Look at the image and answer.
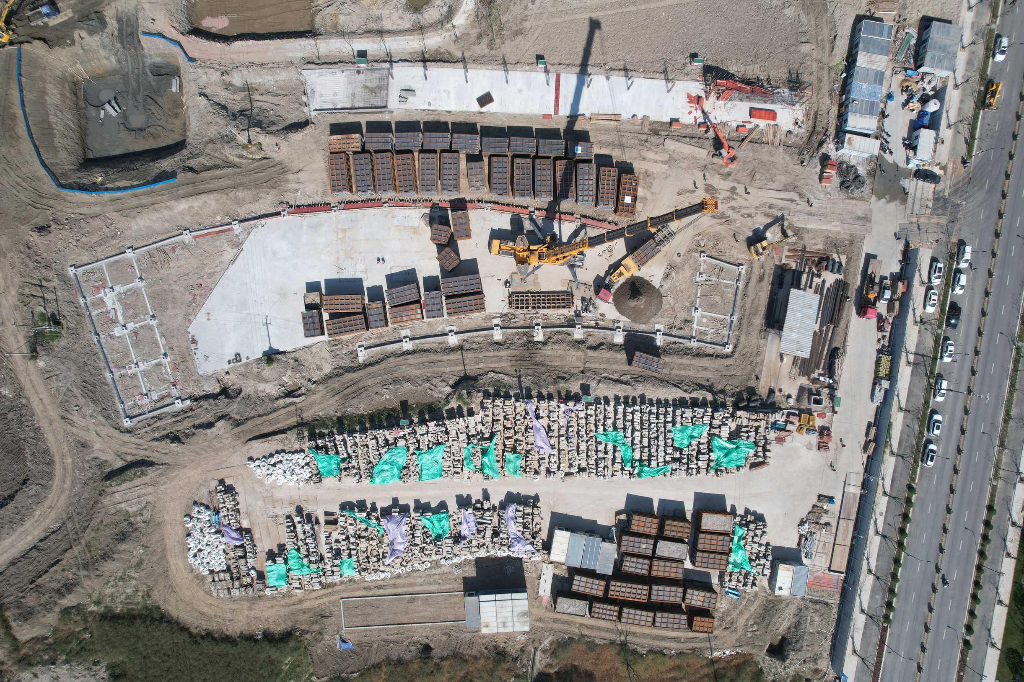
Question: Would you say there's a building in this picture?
Yes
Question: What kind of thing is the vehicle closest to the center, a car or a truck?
truck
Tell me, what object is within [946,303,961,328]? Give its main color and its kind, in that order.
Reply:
black car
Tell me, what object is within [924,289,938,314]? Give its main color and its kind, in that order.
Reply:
white car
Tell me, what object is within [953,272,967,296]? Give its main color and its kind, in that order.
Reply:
white car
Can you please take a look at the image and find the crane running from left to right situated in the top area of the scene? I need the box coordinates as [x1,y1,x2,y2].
[490,196,719,291]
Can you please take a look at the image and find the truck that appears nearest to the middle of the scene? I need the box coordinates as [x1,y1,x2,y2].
[595,226,676,304]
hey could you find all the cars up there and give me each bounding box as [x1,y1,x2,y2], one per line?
[953,272,967,296]
[957,244,972,269]
[924,289,938,314]
[922,443,937,467]
[915,170,940,183]
[930,260,944,285]
[941,339,955,364]
[946,303,961,328]
[993,36,1008,62]
[928,413,943,438]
